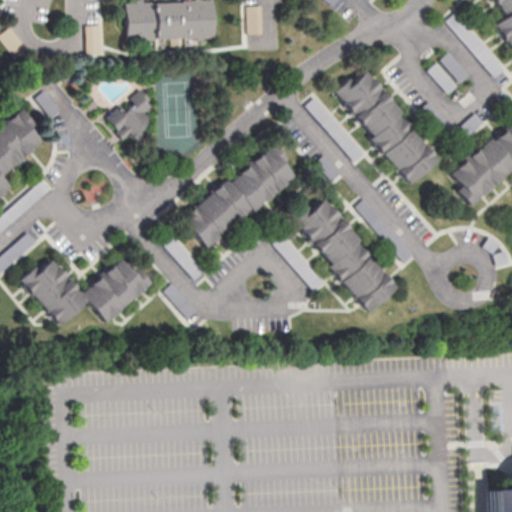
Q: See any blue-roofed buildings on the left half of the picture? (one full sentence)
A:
No, on the left half of the picture there is no blue-roofed building.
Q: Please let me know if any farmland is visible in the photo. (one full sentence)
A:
No, no farmland is visible.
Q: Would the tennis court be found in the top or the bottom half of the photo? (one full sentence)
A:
You can find the tennis court in the top half.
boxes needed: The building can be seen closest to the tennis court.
[102,92,150,146]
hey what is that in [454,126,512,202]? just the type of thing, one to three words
building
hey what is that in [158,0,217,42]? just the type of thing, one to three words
building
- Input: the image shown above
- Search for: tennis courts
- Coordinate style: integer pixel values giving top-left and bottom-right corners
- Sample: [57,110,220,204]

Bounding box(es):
[156,76,203,158]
